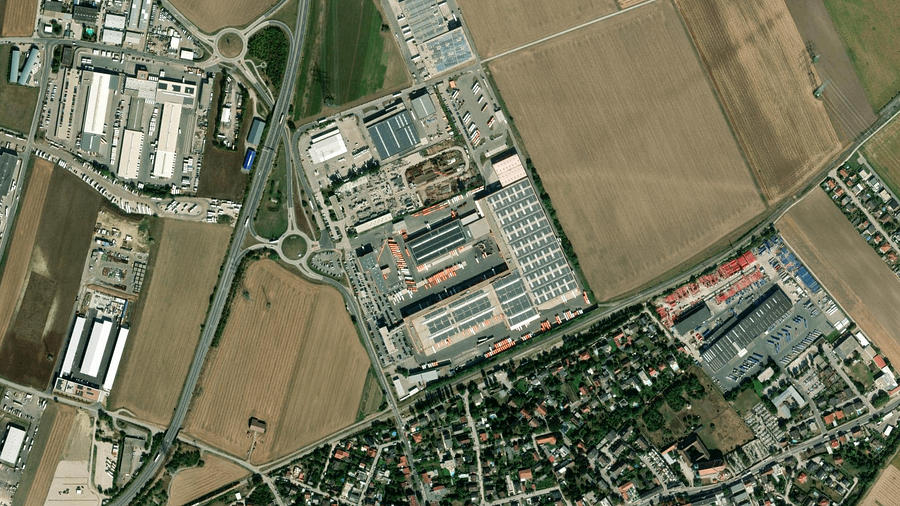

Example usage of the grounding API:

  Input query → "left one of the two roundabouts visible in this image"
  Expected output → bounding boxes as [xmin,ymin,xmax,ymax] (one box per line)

[214,28,247,61]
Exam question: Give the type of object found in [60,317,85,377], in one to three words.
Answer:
building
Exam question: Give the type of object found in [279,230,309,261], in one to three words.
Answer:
roundabout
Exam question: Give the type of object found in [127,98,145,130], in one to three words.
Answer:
building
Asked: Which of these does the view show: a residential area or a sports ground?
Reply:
residential area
